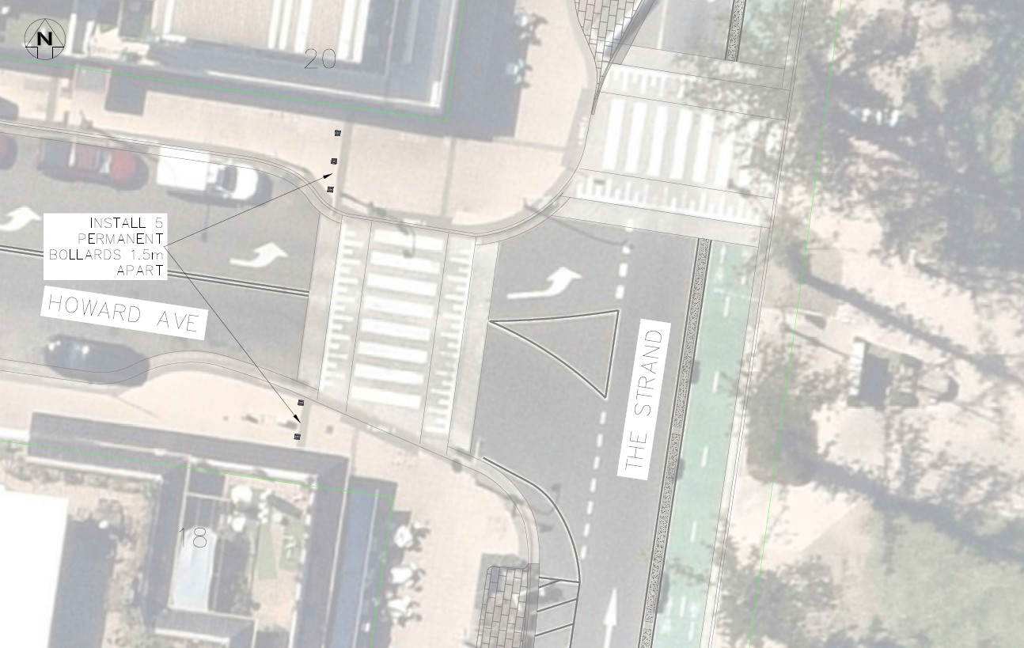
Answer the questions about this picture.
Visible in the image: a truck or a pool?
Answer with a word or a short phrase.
truck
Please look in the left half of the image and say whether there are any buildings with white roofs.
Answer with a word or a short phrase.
Yes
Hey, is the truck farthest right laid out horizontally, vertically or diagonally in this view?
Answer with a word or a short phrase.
horizontally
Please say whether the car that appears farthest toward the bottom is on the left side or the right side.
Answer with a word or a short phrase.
left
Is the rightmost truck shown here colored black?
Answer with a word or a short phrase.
No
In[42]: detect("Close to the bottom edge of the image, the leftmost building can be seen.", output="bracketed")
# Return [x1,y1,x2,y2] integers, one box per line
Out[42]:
[0,489,71,648]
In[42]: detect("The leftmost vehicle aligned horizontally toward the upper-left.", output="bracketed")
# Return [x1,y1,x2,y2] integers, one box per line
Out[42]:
[36,134,137,183]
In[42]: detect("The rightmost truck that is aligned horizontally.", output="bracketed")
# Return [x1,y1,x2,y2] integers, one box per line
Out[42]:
[153,146,260,196]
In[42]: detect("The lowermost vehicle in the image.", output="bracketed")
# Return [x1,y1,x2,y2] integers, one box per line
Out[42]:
[43,334,134,380]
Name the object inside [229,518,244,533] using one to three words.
umbrella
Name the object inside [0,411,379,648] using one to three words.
building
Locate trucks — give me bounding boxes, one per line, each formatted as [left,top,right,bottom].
[153,146,260,196]
[36,134,137,183]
